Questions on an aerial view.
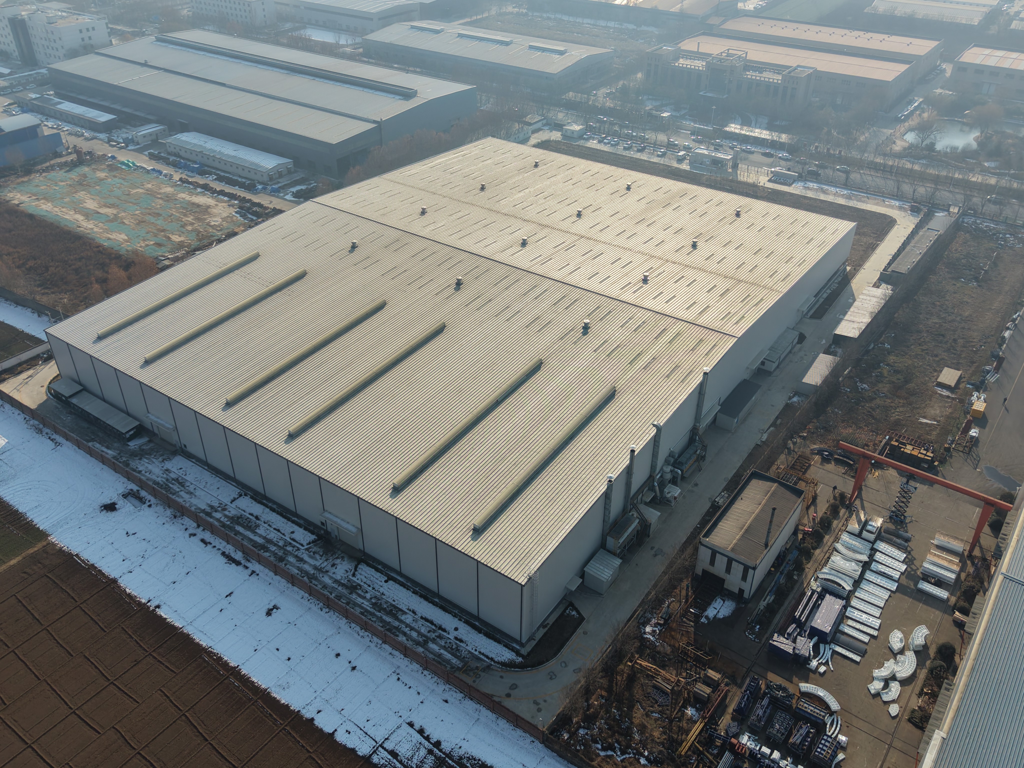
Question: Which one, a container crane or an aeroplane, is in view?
container crane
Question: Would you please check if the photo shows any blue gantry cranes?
No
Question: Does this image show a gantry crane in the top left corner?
No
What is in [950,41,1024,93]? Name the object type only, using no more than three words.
building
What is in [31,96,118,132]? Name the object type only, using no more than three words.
building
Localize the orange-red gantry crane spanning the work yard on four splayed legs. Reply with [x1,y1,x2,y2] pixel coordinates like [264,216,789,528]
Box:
[836,445,1015,556]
